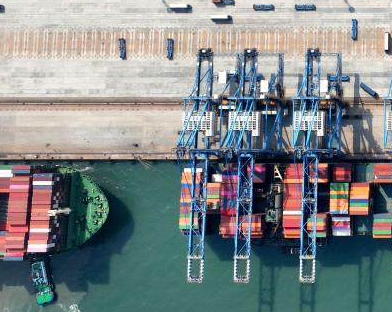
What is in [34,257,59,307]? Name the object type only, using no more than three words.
boat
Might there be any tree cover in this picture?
No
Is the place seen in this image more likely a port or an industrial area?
port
